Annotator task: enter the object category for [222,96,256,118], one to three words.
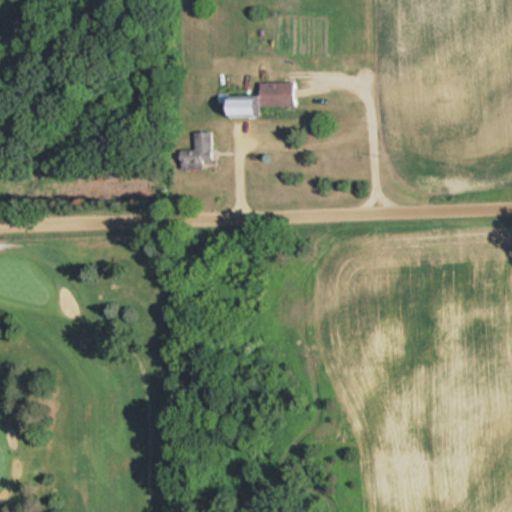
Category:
barn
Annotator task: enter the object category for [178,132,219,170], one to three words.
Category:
house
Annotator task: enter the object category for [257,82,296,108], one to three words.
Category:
barn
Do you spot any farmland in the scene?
Yes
